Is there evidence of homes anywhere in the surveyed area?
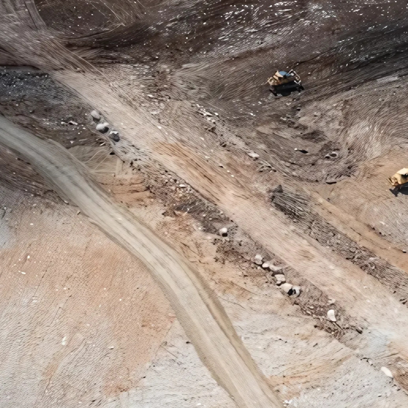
No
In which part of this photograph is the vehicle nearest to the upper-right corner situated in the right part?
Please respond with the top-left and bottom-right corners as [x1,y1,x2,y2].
[269,71,303,94]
